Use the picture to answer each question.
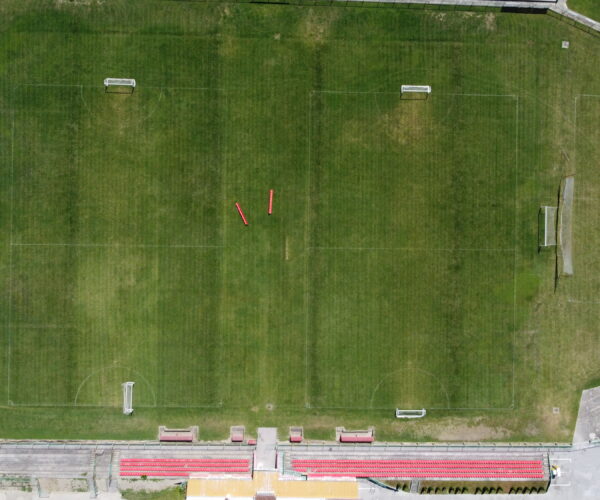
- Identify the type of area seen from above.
sports ground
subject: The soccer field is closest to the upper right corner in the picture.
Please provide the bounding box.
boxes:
[573,94,600,304]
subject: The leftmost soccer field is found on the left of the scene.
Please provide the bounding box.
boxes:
[0,83,223,406]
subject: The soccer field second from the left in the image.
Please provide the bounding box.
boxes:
[305,89,520,411]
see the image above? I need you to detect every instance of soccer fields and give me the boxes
[573,94,600,304]
[0,83,223,406]
[305,89,520,411]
